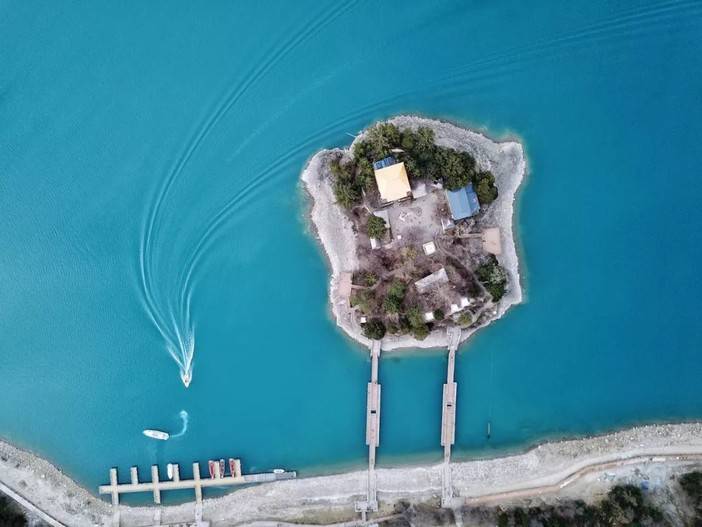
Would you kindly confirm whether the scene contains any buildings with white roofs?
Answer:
Yes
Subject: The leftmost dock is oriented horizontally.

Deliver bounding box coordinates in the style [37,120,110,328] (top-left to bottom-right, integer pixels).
[99,459,297,507]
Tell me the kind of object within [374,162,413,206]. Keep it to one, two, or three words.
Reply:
building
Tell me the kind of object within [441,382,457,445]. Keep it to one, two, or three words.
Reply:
pier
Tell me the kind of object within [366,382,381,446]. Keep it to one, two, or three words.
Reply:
pier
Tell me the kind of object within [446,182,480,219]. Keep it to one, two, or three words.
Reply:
house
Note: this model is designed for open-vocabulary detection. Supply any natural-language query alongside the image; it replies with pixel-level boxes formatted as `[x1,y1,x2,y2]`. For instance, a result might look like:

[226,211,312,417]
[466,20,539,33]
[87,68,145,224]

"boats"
[229,456,235,478]
[208,458,214,479]
[167,463,172,480]
[184,371,190,387]
[219,458,225,479]
[142,430,170,440]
